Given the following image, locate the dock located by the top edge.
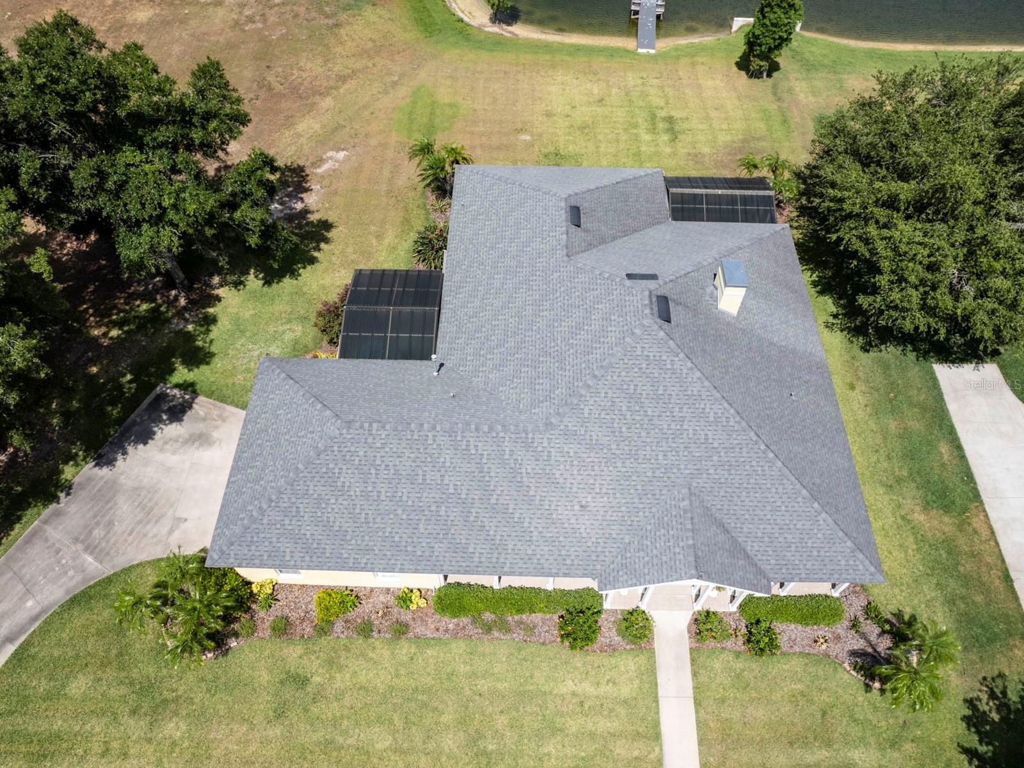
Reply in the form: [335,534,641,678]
[621,0,660,56]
